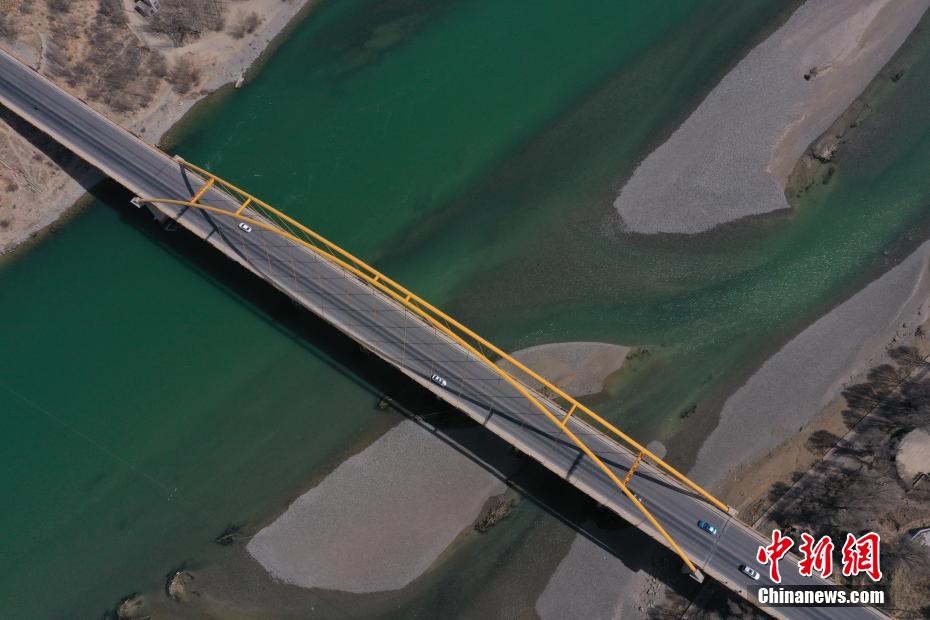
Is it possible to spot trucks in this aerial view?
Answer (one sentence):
No, no truck is visible in the view.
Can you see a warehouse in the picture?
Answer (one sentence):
No, there is no warehouse in the image.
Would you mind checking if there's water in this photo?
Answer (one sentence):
Yes, some water is visible.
